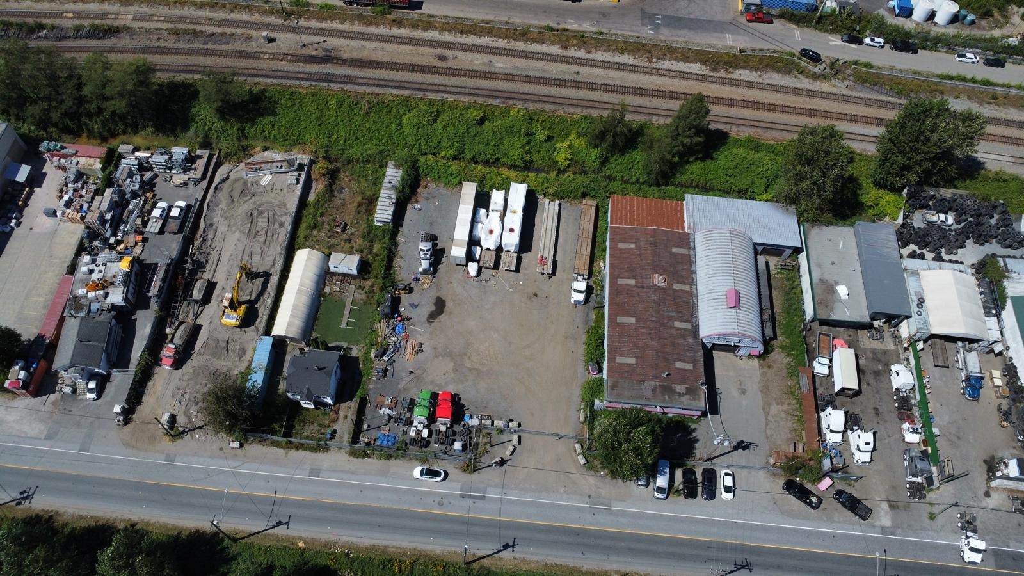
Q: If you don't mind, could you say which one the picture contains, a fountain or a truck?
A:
truck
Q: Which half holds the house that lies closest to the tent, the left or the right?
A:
left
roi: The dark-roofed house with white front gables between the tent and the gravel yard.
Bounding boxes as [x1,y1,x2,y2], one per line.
[278,348,343,416]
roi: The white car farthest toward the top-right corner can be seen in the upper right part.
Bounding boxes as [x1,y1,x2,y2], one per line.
[954,52,979,64]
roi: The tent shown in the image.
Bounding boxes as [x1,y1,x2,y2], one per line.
[276,252,328,349]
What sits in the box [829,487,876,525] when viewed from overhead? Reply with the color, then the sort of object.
black truck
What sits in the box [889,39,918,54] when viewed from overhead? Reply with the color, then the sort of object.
black vehicle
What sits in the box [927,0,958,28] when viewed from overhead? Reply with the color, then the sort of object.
white storage tank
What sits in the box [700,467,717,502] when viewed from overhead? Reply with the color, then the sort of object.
black car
